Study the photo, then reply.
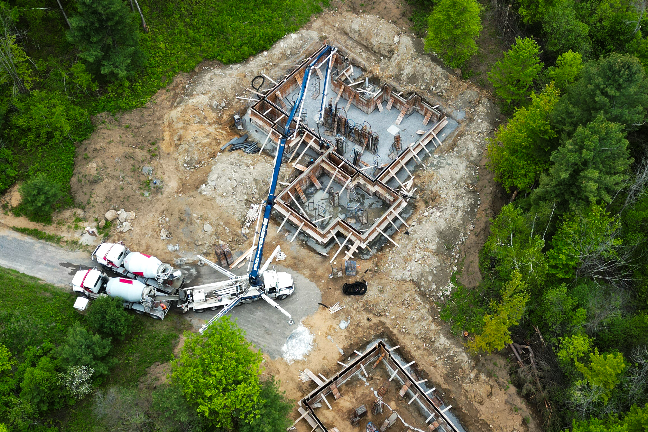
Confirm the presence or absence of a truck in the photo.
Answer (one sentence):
Yes, a truck is visible in the scene.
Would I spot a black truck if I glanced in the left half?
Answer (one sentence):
No, I can find no black truck in the left half.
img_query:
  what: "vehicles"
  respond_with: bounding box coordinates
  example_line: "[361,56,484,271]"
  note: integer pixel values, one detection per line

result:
[84,240,188,299]
[178,44,338,331]
[67,268,182,322]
